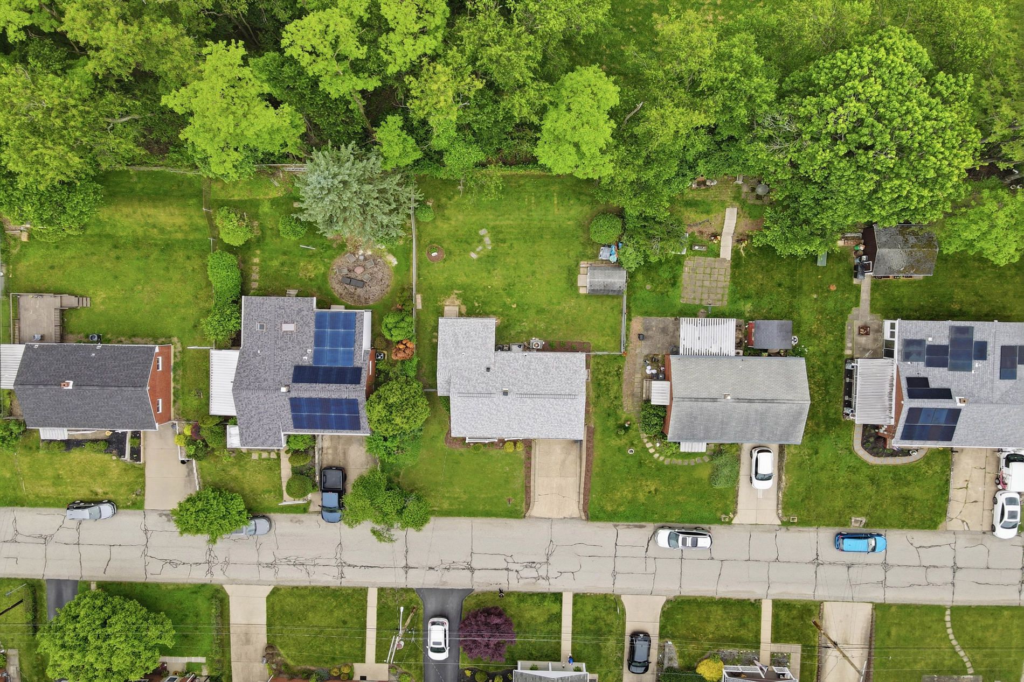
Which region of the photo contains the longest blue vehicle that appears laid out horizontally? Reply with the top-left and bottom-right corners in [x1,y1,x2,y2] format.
[834,531,886,557]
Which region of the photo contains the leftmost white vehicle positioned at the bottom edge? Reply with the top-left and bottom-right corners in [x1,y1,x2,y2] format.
[425,616,450,661]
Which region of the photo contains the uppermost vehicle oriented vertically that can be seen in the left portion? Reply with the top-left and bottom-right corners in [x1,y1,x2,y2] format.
[315,465,343,521]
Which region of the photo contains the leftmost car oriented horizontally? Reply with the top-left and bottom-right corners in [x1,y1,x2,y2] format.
[62,499,118,524]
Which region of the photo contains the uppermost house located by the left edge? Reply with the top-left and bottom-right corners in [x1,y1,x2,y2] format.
[12,343,176,434]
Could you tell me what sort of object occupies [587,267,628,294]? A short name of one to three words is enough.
shed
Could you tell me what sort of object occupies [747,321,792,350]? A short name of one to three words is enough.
shed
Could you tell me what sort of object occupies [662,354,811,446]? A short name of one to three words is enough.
house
